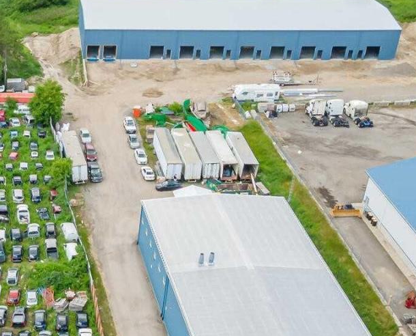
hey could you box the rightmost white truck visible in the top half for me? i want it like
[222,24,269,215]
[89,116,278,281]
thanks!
[349,97,379,127]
